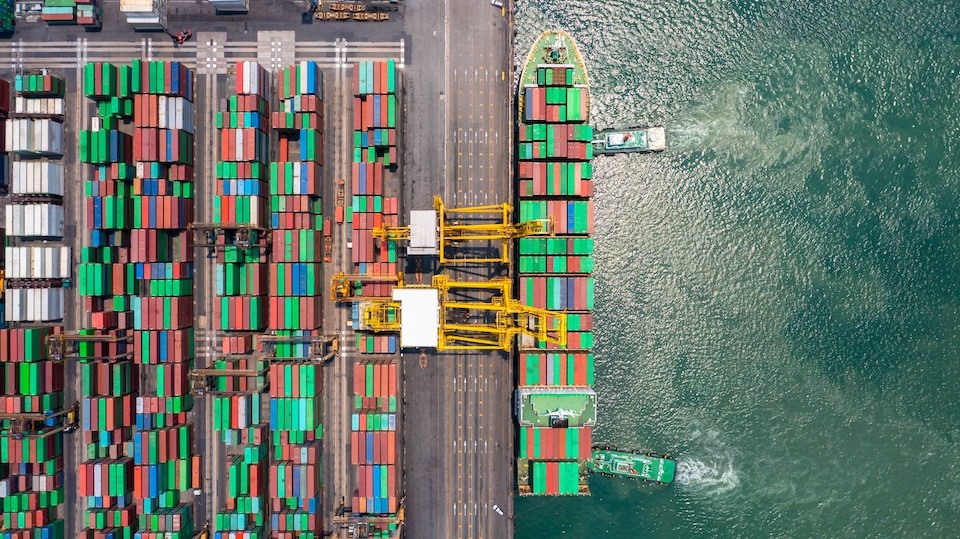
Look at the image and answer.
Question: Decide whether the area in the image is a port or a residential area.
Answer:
port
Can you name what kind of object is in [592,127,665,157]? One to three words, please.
boat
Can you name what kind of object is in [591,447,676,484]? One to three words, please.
boat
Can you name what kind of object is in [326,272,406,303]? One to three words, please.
container crane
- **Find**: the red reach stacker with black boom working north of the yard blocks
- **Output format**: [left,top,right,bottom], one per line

[162,30,190,48]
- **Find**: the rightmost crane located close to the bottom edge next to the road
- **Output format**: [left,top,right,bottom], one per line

[327,494,407,539]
